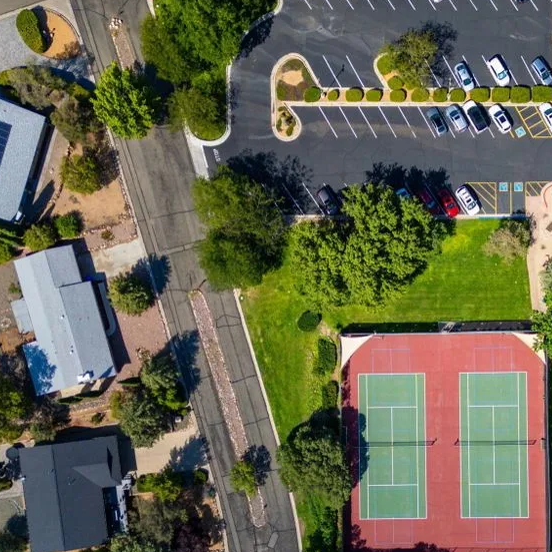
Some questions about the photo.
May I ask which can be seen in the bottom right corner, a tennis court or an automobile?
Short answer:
tennis court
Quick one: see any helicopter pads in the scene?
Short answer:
No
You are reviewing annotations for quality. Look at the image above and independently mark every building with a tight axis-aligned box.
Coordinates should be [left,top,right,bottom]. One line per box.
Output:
[0,100,52,220]
[19,436,128,552]
[11,245,123,396]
